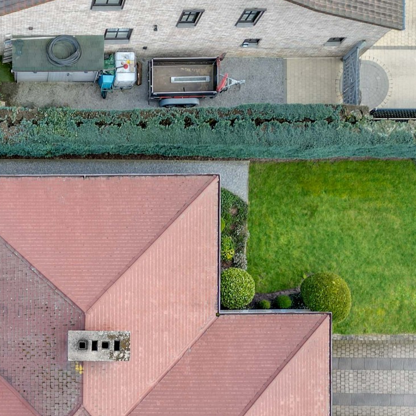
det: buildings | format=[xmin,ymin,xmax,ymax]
[0,175,332,416]
[0,0,406,57]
